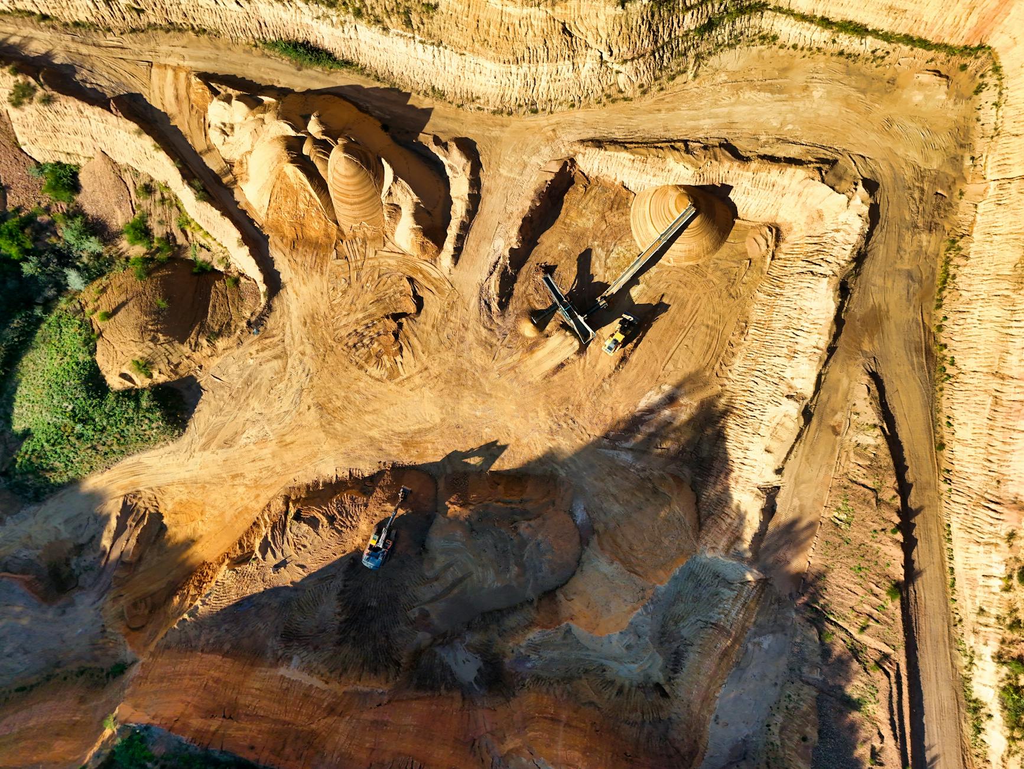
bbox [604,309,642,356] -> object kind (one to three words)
work vehicle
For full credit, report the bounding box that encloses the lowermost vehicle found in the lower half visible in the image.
[359,491,408,580]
